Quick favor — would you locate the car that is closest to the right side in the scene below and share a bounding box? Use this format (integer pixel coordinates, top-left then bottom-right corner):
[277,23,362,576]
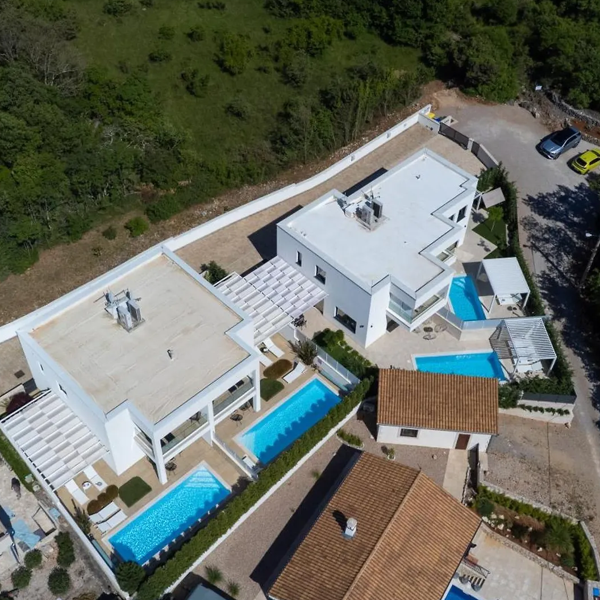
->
[570,143,600,172]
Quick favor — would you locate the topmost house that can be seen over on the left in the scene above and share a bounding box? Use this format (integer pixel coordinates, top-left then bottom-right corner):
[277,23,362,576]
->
[17,246,259,482]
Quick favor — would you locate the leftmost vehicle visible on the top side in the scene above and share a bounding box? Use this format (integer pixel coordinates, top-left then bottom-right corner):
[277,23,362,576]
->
[537,120,580,156]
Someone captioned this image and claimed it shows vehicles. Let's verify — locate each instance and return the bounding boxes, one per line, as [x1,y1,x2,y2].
[570,143,600,172]
[537,120,580,156]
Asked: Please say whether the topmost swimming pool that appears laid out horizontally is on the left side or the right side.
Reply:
right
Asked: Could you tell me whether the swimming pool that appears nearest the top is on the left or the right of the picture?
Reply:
right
